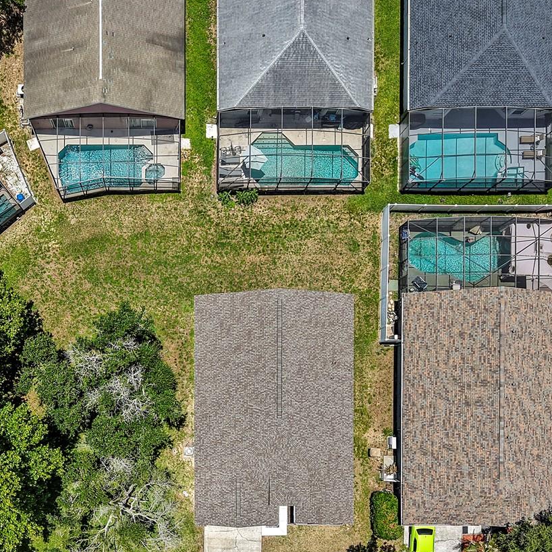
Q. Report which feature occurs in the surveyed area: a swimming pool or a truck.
swimming pool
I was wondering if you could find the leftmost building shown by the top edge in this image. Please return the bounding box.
[24,0,185,129]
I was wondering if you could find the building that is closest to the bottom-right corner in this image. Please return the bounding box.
[397,287,552,526]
